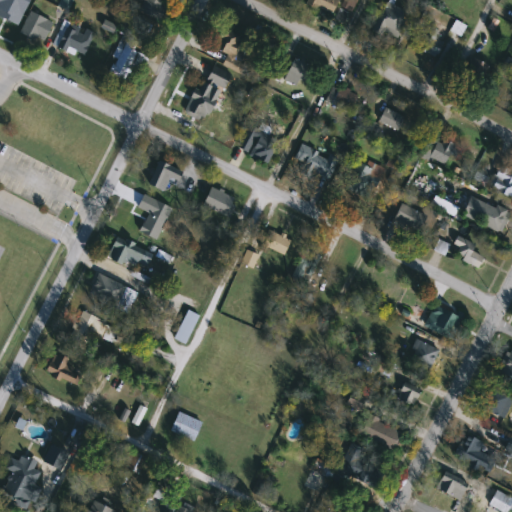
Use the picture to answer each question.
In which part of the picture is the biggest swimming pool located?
bottom left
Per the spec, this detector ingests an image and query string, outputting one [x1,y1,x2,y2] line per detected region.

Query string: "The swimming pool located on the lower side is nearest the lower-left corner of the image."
[22,422,49,444]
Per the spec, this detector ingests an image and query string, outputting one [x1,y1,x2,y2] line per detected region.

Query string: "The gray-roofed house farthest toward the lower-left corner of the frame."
[4,456,44,512]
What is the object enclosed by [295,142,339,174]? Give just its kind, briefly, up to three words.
house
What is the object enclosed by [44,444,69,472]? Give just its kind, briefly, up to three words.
building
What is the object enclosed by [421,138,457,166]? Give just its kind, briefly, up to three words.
house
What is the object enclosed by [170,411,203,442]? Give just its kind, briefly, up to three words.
barn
